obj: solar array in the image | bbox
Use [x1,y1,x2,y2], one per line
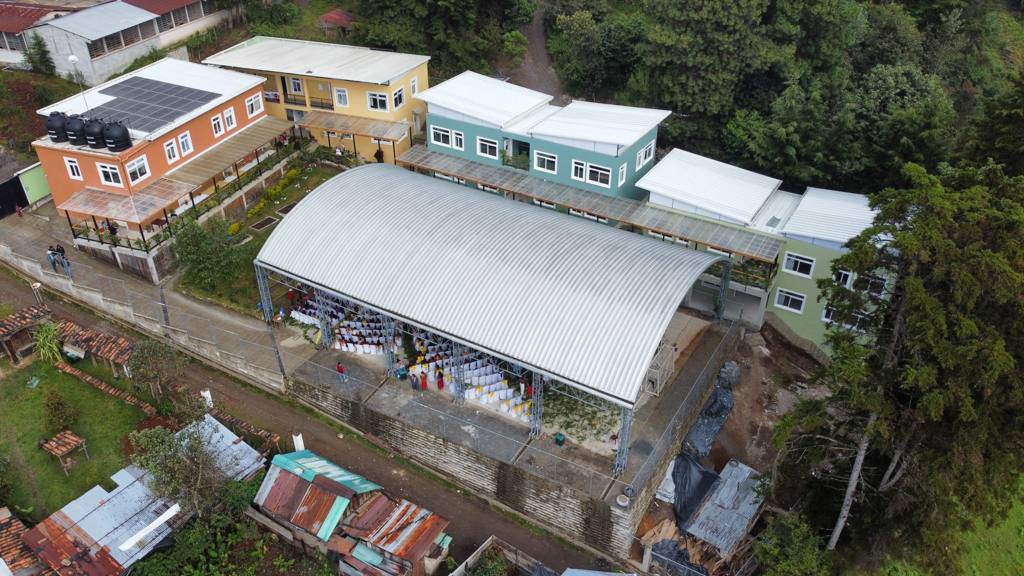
[79,77,221,132]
